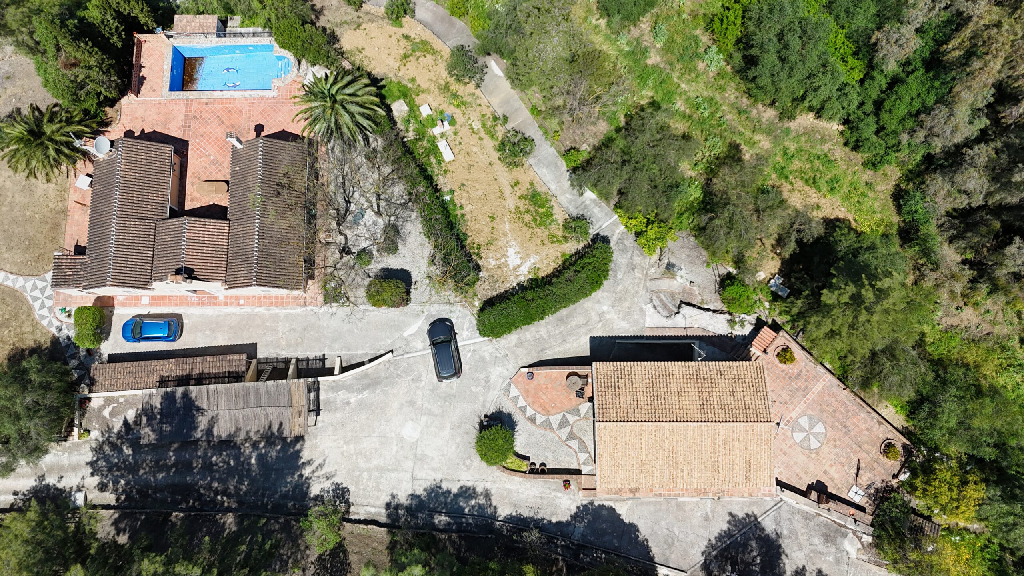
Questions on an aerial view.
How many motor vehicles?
2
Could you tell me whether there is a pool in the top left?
Yes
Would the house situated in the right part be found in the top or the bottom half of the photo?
bottom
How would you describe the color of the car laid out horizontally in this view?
blue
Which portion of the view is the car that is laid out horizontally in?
left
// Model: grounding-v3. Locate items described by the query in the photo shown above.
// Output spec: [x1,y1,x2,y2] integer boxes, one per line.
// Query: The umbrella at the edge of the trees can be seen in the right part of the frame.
[844,480,876,506]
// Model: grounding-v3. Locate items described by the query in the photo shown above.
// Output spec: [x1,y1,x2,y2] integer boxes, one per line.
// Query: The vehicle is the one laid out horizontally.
[120,316,183,346]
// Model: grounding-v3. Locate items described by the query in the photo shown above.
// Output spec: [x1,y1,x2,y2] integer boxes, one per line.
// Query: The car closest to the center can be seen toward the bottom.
[427,320,461,384]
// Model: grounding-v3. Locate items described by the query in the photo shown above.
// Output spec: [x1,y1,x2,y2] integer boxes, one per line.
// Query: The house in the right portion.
[582,361,779,501]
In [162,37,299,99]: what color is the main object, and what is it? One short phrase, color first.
blue swimming pool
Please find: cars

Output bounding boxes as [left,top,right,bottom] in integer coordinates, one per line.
[427,320,461,384]
[120,316,183,346]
